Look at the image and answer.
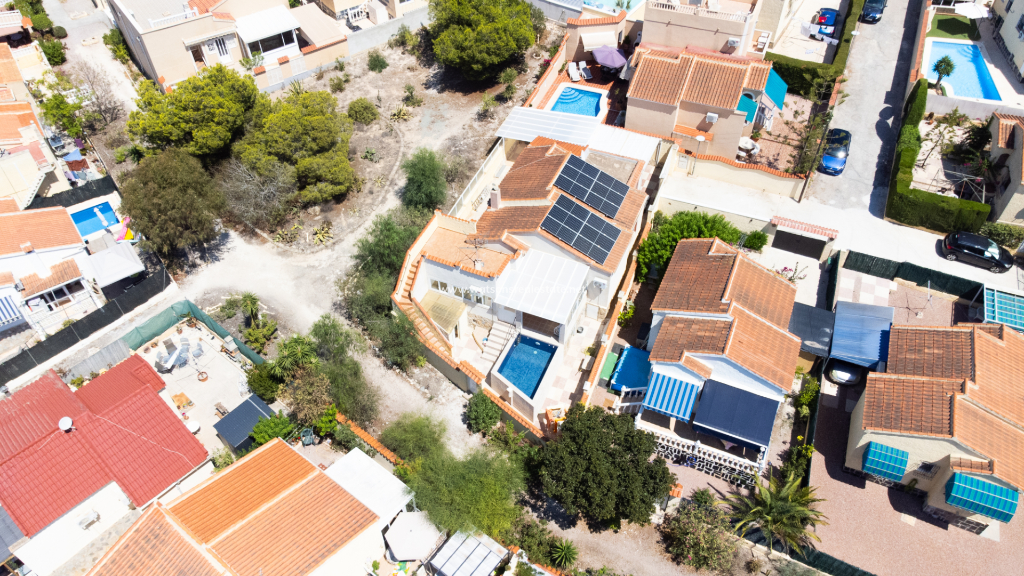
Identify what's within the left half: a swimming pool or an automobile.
swimming pool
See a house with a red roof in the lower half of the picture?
Yes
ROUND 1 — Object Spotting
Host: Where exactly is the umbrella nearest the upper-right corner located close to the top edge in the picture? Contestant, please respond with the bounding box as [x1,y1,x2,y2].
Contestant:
[951,3,993,37]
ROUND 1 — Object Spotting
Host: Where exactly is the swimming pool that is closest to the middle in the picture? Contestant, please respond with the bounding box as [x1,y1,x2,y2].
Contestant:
[491,330,562,422]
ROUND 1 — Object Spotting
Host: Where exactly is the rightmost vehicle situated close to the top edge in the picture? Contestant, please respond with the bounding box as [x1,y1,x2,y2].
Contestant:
[865,0,888,20]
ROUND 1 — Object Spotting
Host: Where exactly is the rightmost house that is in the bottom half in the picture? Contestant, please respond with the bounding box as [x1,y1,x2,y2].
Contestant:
[847,319,1024,536]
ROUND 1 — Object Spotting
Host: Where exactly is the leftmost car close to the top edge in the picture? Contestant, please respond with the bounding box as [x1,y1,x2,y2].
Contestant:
[813,13,841,40]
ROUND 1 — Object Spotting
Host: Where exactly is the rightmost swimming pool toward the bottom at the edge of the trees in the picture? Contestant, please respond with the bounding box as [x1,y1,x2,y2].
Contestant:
[608,345,653,400]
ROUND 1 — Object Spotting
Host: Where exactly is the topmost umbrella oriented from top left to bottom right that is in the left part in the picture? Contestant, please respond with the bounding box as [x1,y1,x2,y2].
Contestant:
[94,206,118,238]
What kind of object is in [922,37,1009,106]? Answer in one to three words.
swimming pool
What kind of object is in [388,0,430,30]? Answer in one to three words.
house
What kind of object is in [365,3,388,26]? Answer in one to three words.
shed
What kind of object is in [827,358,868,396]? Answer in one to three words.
car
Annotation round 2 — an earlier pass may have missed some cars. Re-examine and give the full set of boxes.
[865,0,888,20]
[827,358,868,396]
[818,127,852,172]
[945,230,1023,276]
[813,13,841,40]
